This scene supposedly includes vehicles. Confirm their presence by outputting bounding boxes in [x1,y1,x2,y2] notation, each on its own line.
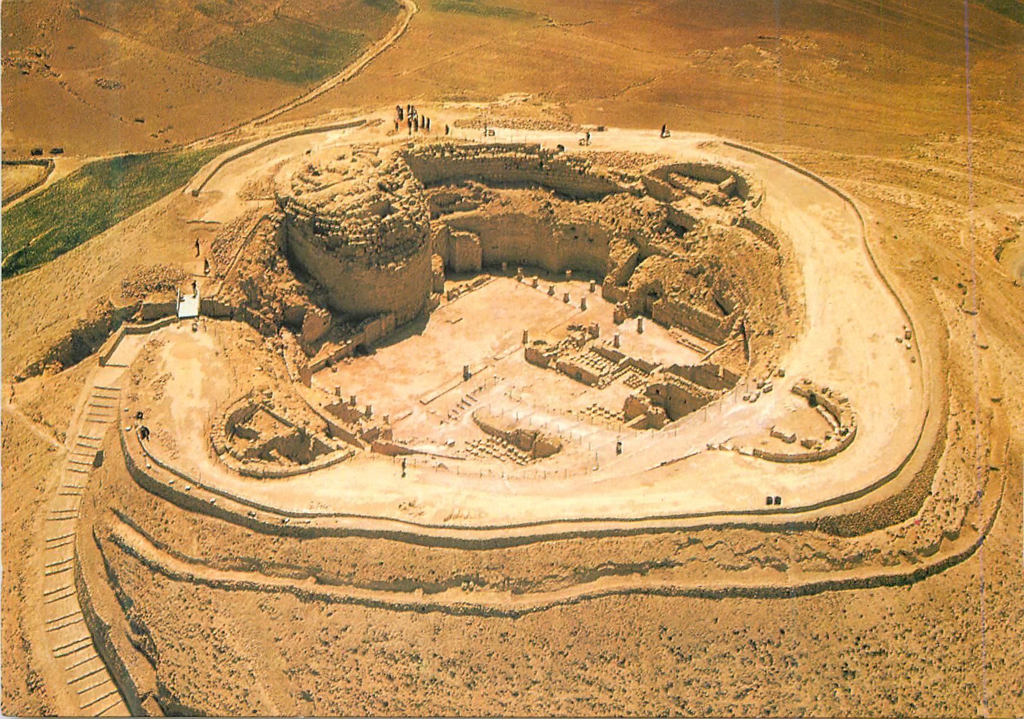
[29,147,44,156]
[48,146,63,156]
